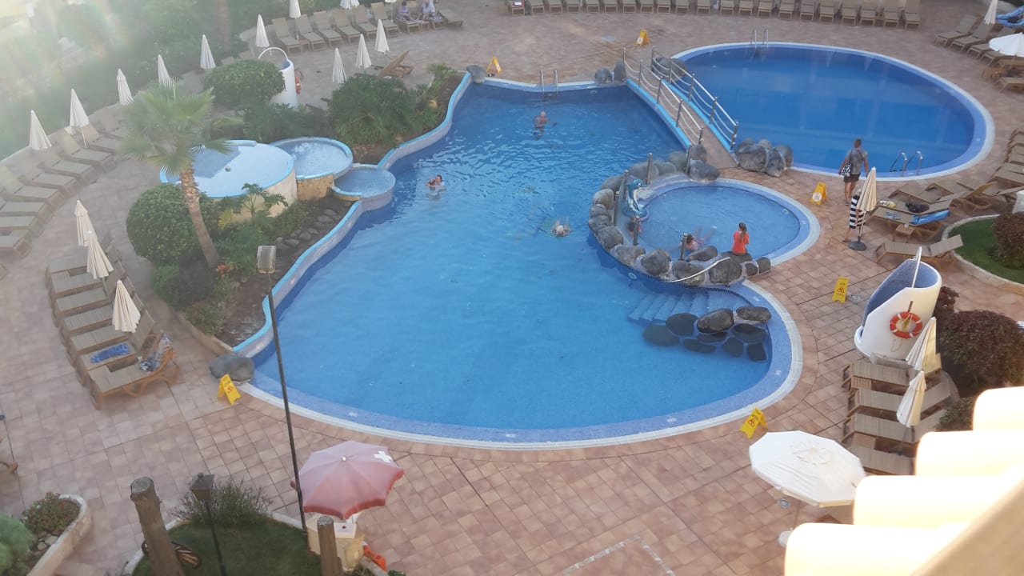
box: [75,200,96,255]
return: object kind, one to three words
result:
umbrella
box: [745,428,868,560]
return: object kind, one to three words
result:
umbrella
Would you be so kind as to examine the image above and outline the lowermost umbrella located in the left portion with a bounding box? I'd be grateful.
[288,436,405,522]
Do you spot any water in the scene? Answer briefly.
Yes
